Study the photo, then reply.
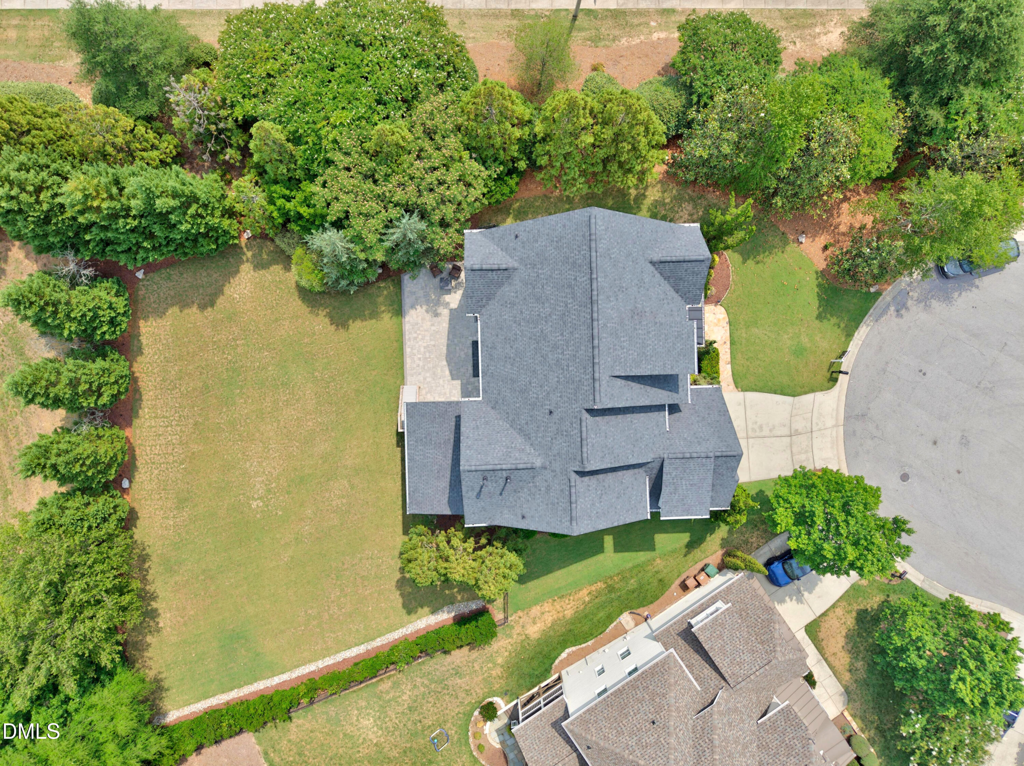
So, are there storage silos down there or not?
No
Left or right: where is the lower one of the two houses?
right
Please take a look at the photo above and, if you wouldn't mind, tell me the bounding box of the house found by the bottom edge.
[480,566,861,766]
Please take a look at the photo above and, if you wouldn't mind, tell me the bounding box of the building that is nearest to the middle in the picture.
[403,207,742,535]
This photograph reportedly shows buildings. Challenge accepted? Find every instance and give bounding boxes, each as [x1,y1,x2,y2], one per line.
[403,207,742,535]
[480,566,861,766]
